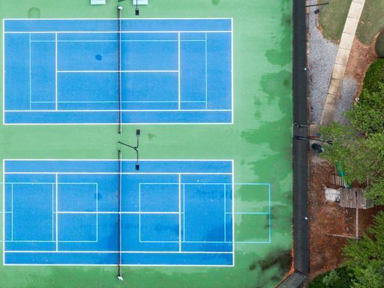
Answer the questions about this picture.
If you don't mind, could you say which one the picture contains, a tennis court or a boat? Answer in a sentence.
Looking from above, you can make out a tennis court.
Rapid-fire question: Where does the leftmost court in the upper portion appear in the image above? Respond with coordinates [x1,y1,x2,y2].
[3,18,233,125]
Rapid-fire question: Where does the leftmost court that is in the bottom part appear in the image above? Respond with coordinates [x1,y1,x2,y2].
[0,159,271,267]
